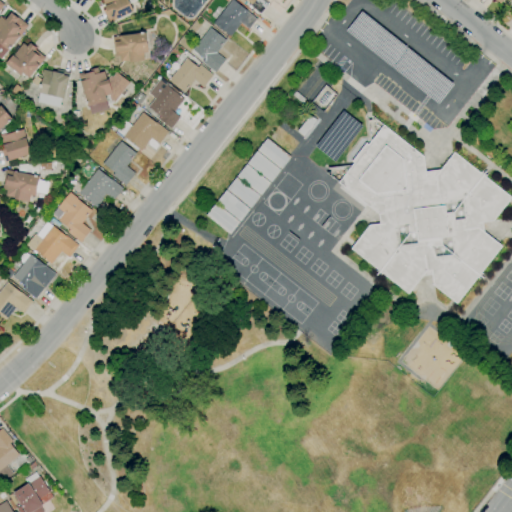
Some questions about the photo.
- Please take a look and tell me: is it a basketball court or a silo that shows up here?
basketball court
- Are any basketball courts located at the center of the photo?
Yes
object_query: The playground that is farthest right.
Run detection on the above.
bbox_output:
[468,264,512,358]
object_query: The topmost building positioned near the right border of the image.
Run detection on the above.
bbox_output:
[340,124,512,304]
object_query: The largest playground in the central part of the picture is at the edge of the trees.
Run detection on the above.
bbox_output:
[218,108,374,354]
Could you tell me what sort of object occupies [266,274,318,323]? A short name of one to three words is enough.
basketball court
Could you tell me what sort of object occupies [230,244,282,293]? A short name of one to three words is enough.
basketball court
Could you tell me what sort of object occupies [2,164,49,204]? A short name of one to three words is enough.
house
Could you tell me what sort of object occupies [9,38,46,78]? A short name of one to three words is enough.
house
